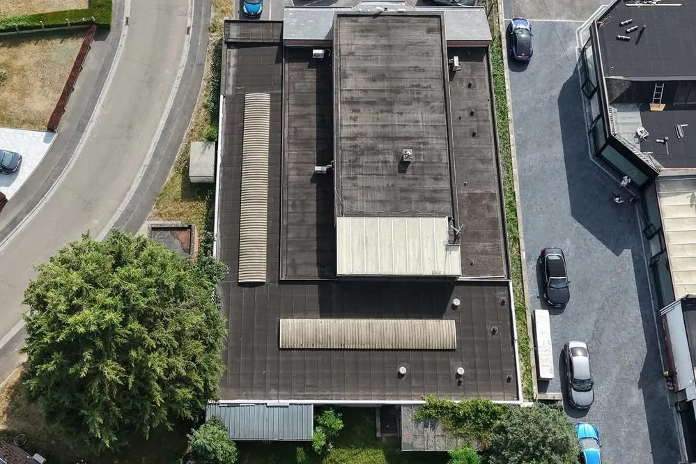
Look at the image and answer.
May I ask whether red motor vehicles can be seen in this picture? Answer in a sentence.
No, there appears to be no red motor vehicle in this shot.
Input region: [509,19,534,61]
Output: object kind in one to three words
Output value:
car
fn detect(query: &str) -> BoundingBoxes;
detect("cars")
[541,248,572,307]
[242,0,262,19]
[509,19,534,61]
[0,148,22,174]
[564,343,597,408]
[575,420,603,464]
